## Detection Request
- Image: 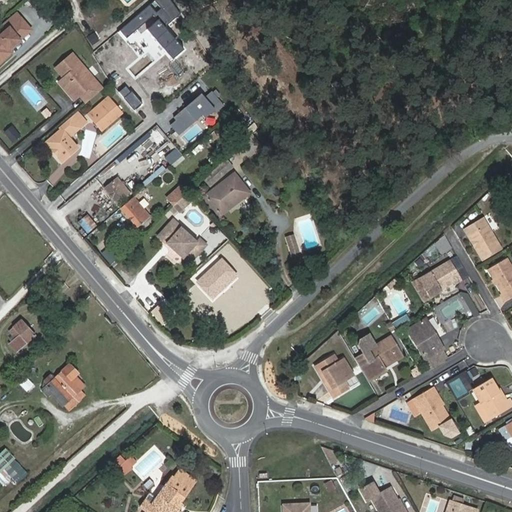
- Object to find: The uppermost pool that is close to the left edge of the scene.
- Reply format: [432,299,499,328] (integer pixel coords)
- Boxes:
[20,80,48,112]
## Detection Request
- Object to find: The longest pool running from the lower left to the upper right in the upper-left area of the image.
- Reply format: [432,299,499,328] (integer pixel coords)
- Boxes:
[92,118,129,157]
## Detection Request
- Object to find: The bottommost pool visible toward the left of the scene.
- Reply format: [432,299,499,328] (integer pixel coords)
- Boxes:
[133,448,166,493]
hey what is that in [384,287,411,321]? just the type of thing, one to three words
swimming pool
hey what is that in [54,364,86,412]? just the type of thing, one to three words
house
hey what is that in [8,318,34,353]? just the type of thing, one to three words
house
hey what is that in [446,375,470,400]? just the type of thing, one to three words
swimming pool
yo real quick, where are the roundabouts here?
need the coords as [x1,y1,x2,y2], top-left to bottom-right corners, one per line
[190,364,283,454]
